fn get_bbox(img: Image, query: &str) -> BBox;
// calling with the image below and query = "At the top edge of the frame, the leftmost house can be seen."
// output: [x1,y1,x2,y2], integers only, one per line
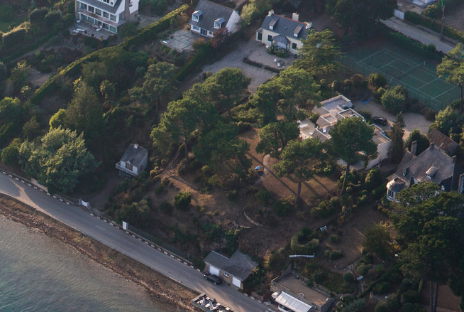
[71,0,138,34]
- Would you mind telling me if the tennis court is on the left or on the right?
right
